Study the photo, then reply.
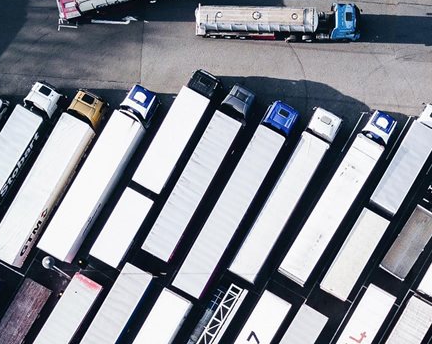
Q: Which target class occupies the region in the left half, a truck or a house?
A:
truck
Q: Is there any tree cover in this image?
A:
No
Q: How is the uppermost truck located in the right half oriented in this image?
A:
from left to right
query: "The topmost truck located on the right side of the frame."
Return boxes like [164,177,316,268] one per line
[195,6,360,50]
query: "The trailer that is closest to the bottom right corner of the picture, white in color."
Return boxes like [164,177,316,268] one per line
[386,296,432,344]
